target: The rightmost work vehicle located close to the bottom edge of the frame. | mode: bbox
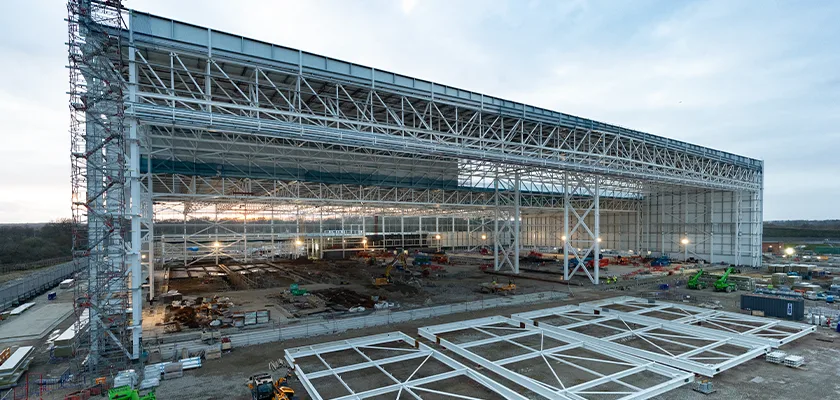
[248,373,309,400]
